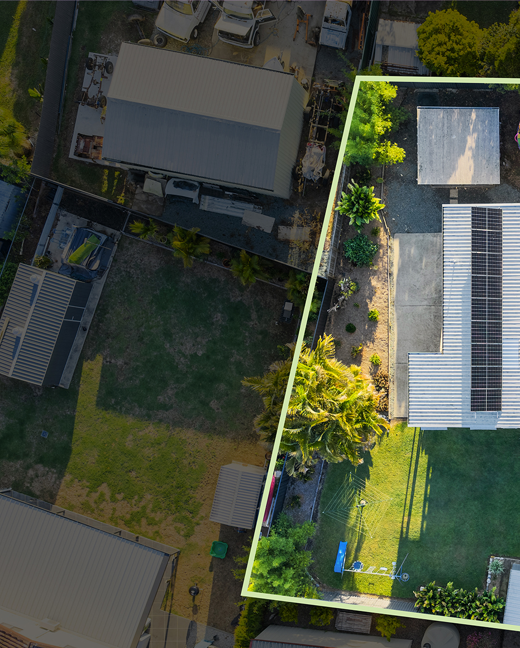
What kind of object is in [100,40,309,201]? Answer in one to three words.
shed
